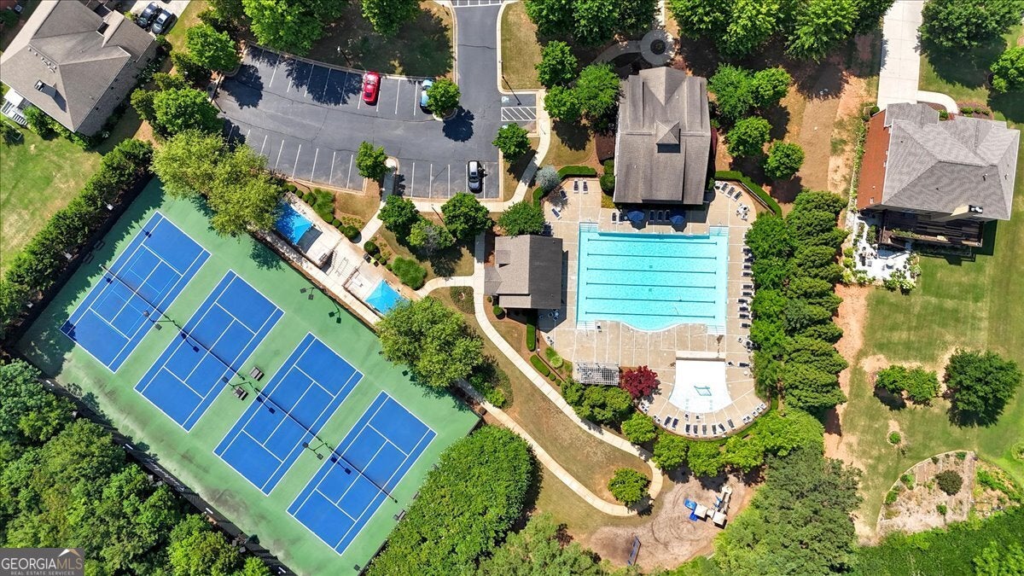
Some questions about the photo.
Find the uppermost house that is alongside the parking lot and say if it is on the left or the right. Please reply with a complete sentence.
The uppermost house that is alongside the parking lot is on the left side of the image.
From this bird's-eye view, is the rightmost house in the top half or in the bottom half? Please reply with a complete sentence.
Seen from above, the rightmost house lies in the top half of the view.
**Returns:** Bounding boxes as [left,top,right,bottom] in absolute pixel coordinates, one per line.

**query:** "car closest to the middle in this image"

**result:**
[468,160,481,192]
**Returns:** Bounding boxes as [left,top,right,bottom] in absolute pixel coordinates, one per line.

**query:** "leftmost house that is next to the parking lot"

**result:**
[0,0,164,133]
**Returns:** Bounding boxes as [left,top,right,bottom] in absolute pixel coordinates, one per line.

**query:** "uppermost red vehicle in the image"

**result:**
[364,71,379,102]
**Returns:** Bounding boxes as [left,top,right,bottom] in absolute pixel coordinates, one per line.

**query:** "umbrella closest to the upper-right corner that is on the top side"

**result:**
[667,211,685,229]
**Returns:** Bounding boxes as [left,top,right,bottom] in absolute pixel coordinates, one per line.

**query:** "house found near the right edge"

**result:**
[859,103,1020,251]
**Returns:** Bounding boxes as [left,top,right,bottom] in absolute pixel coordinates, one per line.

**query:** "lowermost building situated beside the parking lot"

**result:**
[485,235,563,308]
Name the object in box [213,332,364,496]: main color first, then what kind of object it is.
blue tennis court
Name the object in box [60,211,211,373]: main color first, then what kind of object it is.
blue tennis court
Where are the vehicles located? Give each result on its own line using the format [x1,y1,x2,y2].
[132,0,157,28]
[418,78,432,108]
[364,71,379,102]
[468,160,481,192]
[149,4,172,36]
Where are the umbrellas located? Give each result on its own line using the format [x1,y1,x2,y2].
[667,211,685,229]
[626,206,645,225]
